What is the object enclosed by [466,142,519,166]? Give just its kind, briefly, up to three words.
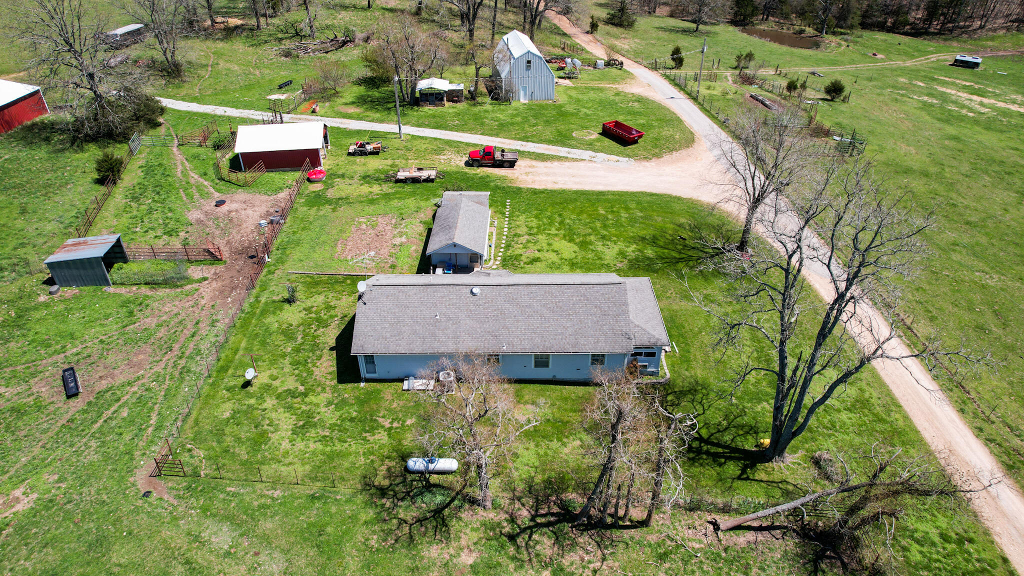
truck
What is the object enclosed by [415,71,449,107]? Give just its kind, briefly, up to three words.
building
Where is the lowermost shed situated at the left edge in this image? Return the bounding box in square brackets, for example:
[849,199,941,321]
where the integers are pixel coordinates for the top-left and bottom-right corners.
[40,231,133,286]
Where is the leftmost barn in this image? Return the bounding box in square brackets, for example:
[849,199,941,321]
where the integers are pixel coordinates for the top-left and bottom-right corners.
[0,69,50,133]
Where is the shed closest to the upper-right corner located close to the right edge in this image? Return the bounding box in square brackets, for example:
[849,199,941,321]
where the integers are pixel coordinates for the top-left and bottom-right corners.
[953,50,986,70]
